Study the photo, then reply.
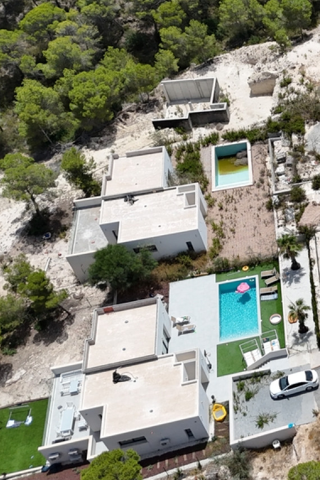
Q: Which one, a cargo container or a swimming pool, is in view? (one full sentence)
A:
The image shows a swimming pool.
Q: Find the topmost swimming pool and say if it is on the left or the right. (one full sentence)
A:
It is on the right.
